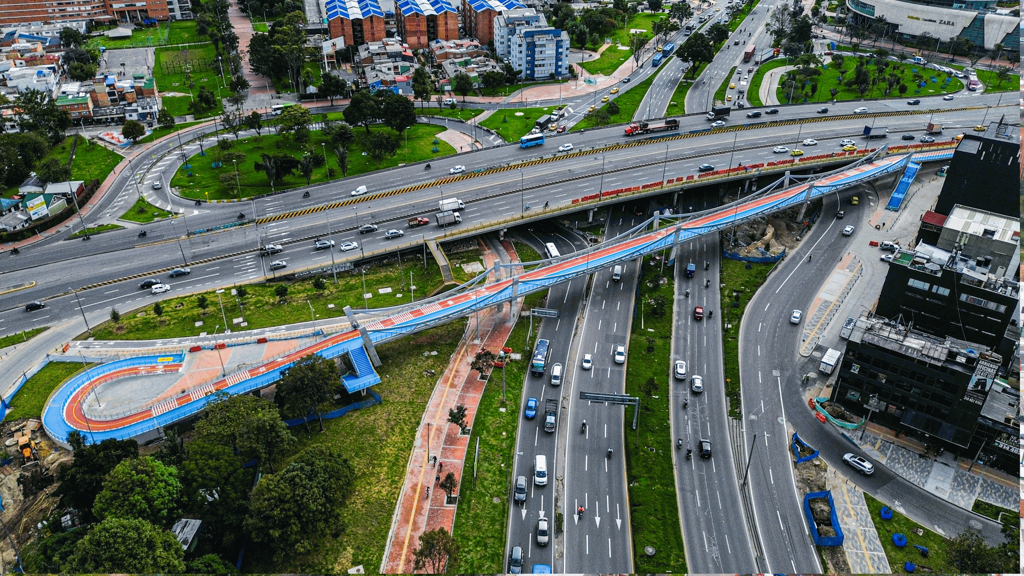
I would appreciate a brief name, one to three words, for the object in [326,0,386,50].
building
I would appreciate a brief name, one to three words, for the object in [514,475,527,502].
vehicle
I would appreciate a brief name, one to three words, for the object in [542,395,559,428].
vehicle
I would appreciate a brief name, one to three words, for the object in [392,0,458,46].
building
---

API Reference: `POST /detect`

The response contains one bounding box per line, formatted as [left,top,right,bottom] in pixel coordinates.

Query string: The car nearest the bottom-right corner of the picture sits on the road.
[842,452,877,474]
